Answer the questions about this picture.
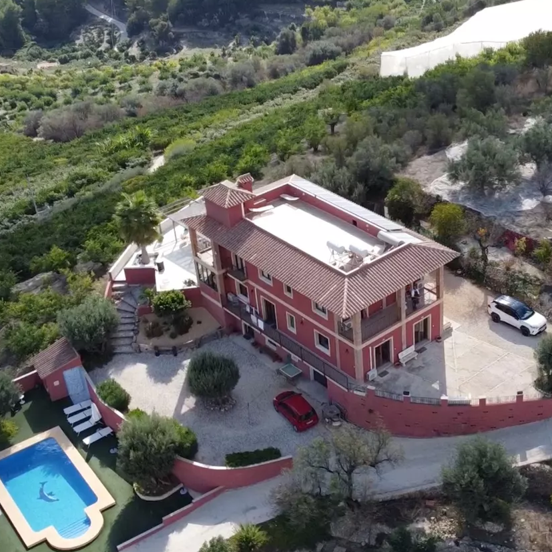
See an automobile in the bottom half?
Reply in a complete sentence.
Yes, an automobile shows up in the bottom half.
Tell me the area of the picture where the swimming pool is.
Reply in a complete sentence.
The swimming pool appears toward the bottom left of the photo.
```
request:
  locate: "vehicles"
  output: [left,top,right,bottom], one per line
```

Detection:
[487,291,551,335]
[272,390,320,432]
